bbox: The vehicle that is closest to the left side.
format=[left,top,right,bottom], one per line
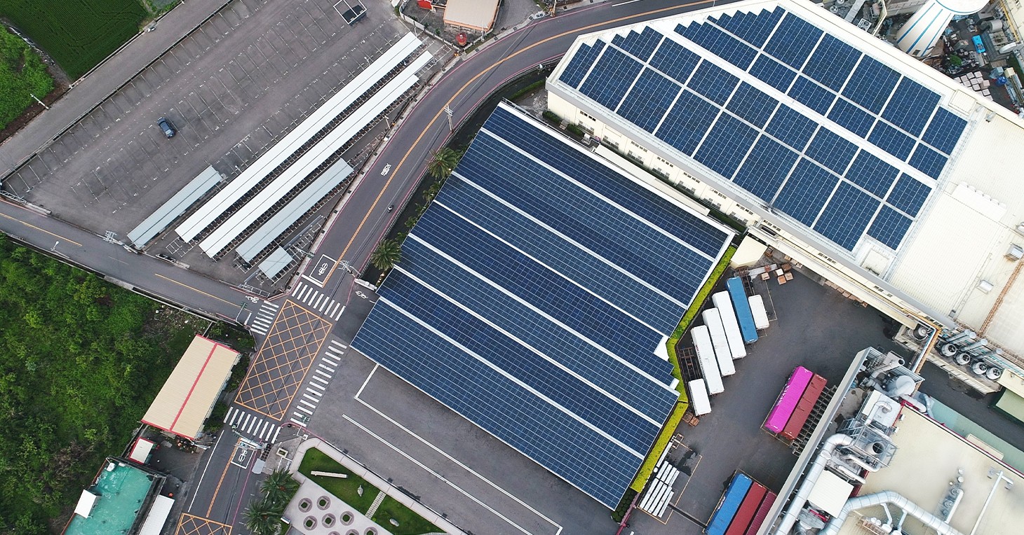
[156,116,174,137]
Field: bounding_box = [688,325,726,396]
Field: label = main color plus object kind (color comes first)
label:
white trailer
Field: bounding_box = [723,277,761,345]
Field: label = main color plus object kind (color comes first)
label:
blue trailer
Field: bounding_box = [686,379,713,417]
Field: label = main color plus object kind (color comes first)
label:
white trailer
